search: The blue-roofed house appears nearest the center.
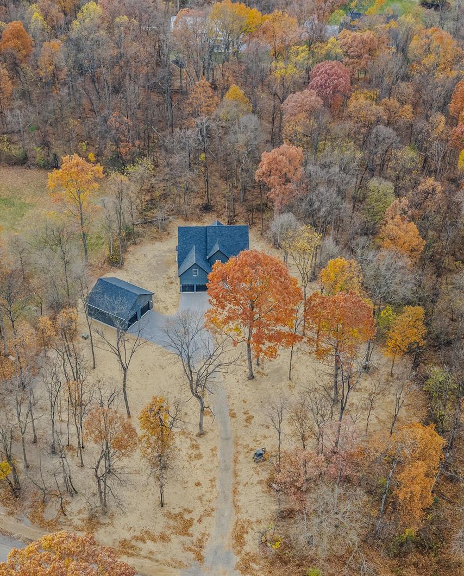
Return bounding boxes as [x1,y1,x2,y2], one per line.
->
[174,218,251,295]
